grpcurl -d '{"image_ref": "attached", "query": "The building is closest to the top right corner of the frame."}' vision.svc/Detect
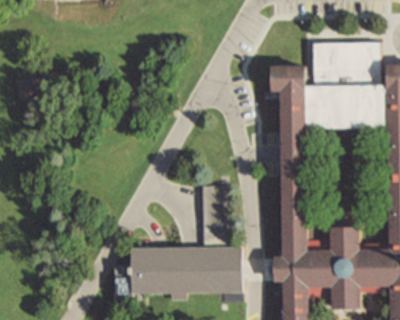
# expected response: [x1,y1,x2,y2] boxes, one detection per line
[306,42,388,132]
